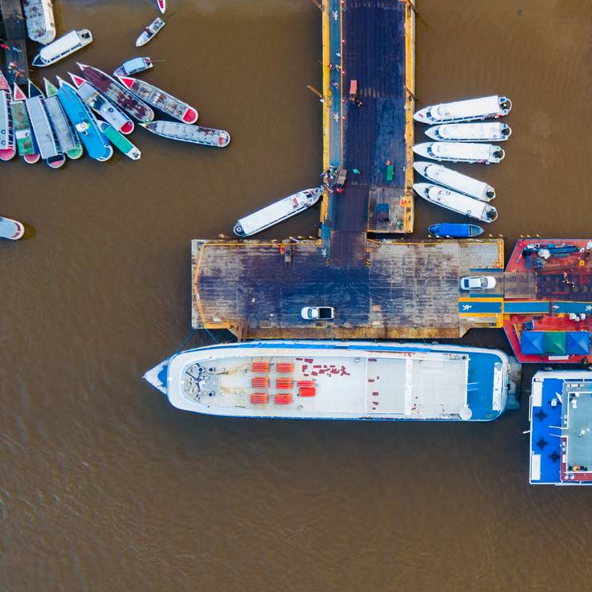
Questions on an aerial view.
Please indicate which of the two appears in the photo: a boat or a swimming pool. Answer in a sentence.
It is a boat that can be seen here.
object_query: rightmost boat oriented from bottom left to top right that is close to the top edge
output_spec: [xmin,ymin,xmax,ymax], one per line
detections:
[134,16,166,48]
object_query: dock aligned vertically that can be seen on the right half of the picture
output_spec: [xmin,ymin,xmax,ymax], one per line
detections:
[319,0,417,267]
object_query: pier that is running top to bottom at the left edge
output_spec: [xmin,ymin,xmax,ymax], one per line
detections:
[0,0,35,86]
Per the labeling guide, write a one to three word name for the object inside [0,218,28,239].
boat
